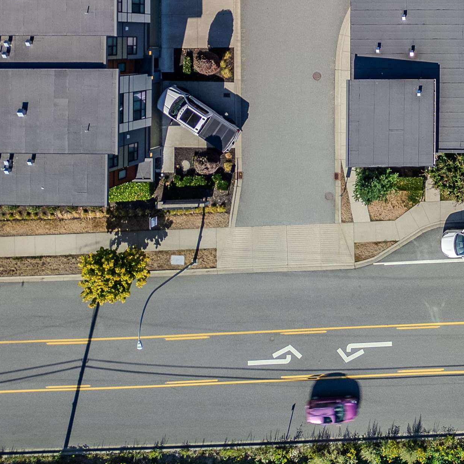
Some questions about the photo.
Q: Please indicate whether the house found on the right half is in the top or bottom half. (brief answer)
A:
top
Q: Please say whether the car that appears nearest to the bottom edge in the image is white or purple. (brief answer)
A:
purple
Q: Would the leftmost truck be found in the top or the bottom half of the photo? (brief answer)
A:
top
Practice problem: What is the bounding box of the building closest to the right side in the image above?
[344,0,464,168]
